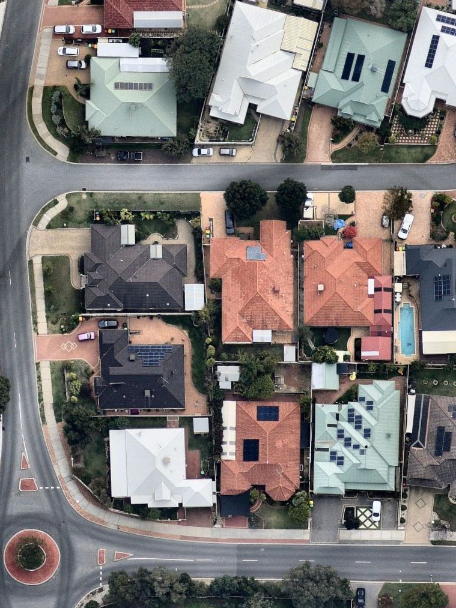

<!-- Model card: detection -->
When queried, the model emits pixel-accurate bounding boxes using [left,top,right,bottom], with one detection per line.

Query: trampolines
[327,327,342,345]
